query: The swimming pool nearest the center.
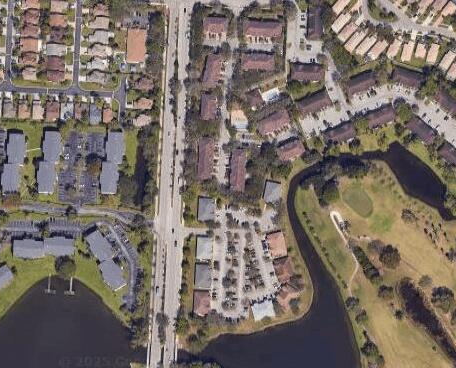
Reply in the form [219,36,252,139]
[262,86,281,102]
